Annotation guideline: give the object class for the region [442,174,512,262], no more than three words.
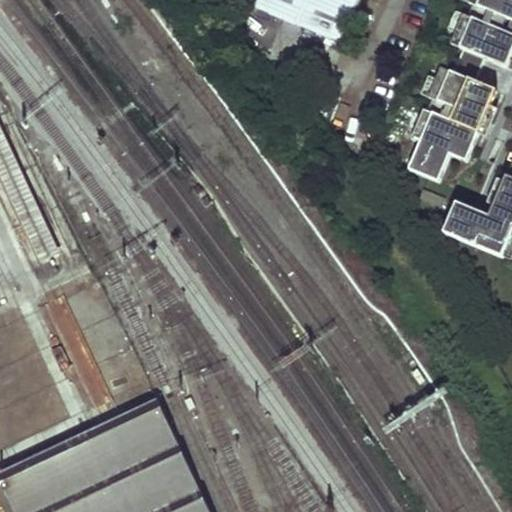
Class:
house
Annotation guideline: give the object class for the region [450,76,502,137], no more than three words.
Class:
house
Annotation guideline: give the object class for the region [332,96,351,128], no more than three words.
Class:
vehicle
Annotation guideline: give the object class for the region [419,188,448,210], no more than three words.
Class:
shed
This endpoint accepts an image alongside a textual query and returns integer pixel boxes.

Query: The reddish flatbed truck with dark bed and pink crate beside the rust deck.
[49,335,72,371]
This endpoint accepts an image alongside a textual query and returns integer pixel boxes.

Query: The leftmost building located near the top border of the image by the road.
[255,0,356,44]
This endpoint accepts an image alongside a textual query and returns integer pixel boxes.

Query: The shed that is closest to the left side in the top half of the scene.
[0,130,57,258]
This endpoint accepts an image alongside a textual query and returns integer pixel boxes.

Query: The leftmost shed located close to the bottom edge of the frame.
[0,397,213,512]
